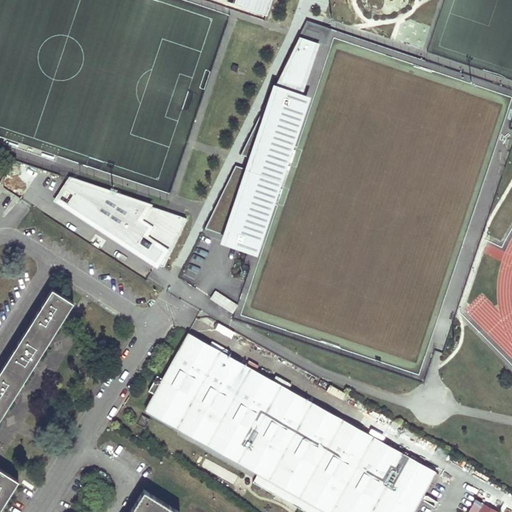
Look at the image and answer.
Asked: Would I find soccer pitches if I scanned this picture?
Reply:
Yes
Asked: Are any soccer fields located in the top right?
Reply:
Yes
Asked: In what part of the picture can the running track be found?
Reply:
right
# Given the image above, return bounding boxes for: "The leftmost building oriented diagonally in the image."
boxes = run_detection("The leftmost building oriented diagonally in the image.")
[0,293,74,418]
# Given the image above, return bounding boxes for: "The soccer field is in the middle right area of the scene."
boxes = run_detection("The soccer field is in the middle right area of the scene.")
[241,38,510,374]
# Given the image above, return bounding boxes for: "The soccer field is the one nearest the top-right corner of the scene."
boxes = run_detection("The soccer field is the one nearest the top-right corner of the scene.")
[422,0,512,80]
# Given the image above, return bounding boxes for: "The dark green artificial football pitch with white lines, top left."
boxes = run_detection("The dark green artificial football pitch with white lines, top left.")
[0,0,230,193]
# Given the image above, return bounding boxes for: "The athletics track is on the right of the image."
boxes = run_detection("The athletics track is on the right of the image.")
[468,232,512,357]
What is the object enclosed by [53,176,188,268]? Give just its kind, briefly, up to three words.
building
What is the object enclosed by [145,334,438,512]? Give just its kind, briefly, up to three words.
warehouse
